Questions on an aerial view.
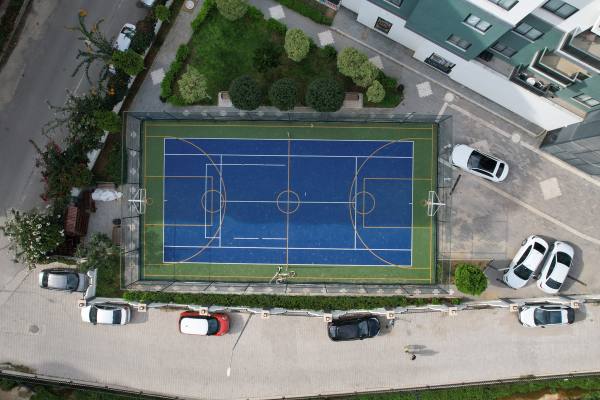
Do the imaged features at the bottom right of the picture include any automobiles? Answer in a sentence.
Yes, an automobile appears at the bottom right of the picture.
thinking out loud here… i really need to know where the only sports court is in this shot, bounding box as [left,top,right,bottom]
[141,121,437,283]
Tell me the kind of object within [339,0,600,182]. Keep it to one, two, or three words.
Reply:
building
